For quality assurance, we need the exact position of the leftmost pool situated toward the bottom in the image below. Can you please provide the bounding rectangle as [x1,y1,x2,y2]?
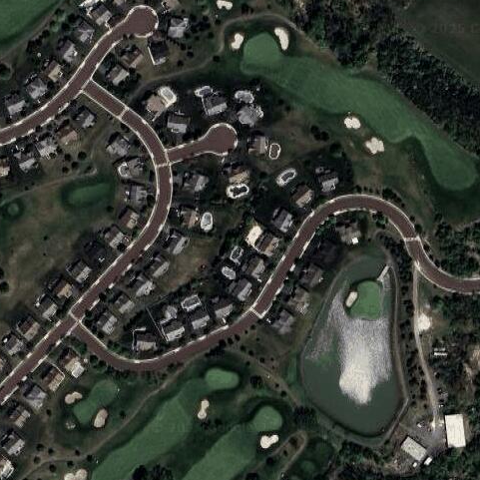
[163,305,177,320]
